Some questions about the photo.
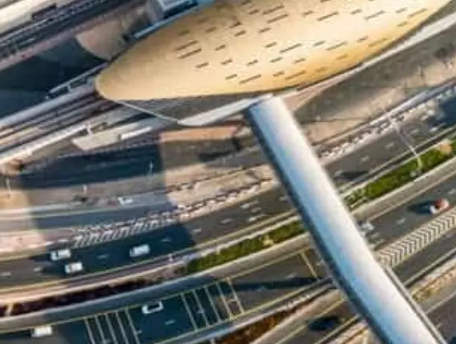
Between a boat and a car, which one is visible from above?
car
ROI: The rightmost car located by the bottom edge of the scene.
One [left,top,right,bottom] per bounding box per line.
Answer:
[317,313,341,331]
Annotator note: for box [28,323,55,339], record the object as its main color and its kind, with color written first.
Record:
white vehicle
